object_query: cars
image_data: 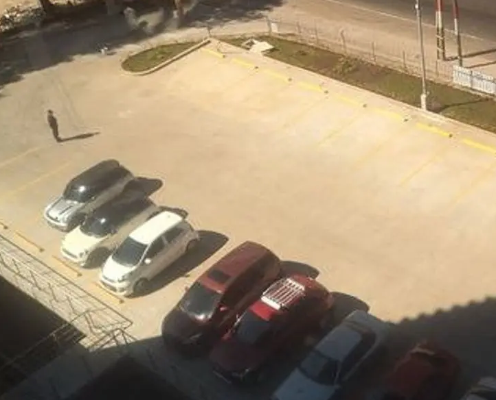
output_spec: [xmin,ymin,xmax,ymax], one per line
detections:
[211,271,333,383]
[271,310,394,400]
[363,345,461,400]
[101,212,206,295]
[164,245,292,356]
[63,189,167,266]
[47,159,145,229]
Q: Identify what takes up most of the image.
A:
paved ground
